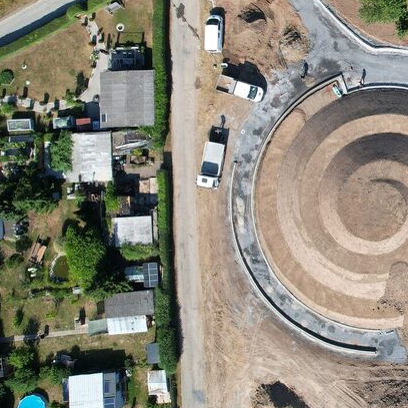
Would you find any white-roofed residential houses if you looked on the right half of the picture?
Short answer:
No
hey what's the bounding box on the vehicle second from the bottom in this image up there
[214,72,265,102]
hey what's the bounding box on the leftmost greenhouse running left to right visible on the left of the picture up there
[8,119,36,131]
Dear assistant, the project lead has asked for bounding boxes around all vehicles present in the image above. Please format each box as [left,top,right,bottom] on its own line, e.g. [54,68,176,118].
[205,12,223,52]
[197,137,223,190]
[214,72,265,102]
